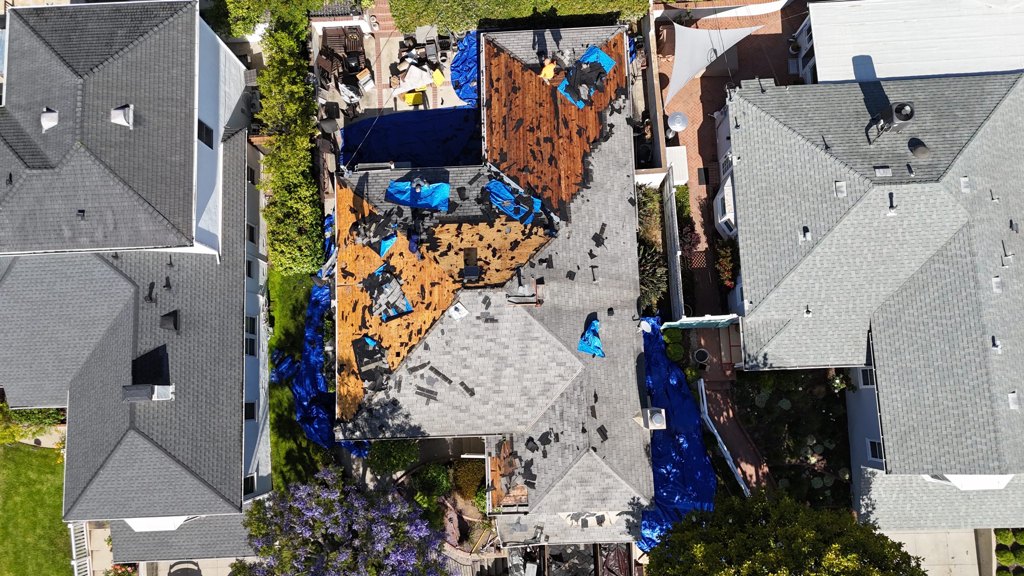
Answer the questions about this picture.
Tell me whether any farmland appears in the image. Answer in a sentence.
No, there's no farmland in this view.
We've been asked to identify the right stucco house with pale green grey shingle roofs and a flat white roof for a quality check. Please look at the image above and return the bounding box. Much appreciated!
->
[707,0,1024,529]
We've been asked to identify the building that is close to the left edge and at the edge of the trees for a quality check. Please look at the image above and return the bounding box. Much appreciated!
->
[0,0,268,564]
